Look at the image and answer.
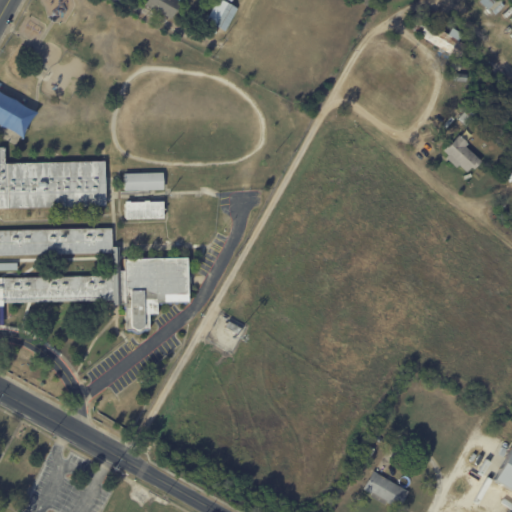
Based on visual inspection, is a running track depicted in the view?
Yes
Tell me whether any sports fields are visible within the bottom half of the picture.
No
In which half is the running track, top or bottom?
top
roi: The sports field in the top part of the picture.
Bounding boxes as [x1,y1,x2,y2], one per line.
[118,72,260,160]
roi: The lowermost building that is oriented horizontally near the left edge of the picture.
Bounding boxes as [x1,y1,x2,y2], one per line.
[3,276,114,302]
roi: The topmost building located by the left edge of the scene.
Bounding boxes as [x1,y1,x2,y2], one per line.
[0,92,38,140]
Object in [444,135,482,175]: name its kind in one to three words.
house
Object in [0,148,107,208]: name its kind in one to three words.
building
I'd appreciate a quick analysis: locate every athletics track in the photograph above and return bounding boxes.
[110,65,266,168]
